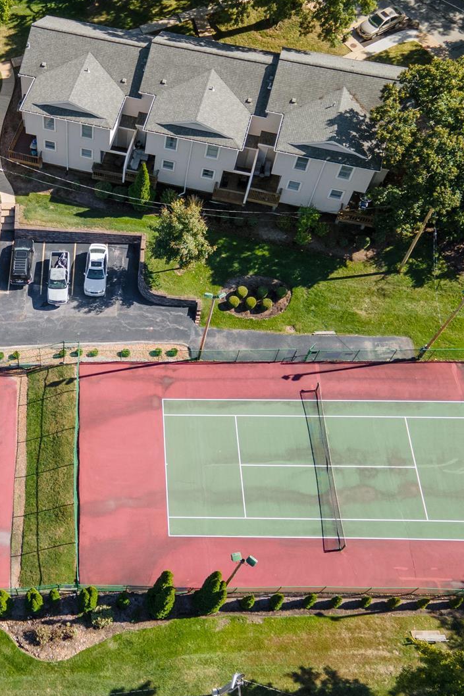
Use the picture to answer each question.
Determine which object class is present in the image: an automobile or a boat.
automobile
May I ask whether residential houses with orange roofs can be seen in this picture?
No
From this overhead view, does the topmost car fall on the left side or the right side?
right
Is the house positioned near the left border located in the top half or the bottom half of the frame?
top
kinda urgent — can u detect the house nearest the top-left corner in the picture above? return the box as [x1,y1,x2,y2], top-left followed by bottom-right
[9,16,157,181]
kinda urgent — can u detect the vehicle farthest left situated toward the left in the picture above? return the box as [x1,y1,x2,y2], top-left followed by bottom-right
[8,239,35,287]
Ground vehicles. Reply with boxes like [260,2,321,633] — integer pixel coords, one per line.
[43,249,72,302]
[8,239,35,287]
[359,10,407,41]
[55,250,63,267]
[83,244,110,293]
